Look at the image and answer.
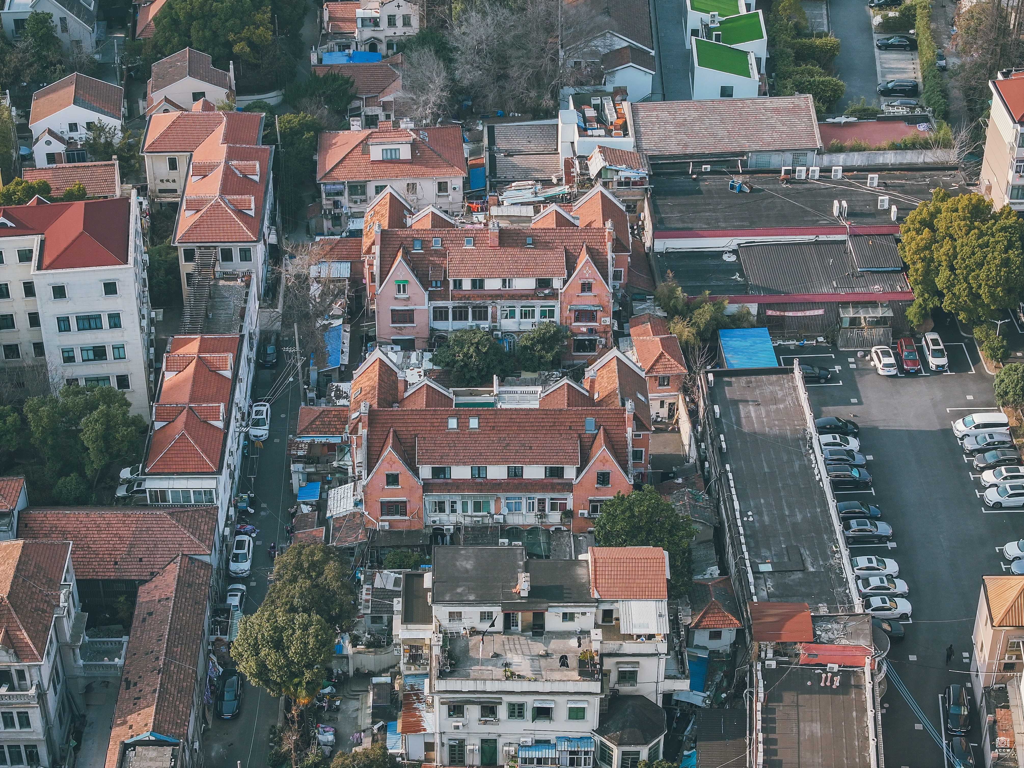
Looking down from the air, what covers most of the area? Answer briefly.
buildings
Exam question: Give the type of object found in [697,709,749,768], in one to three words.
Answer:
shed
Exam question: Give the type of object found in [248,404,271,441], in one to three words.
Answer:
car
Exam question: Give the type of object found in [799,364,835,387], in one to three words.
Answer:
car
